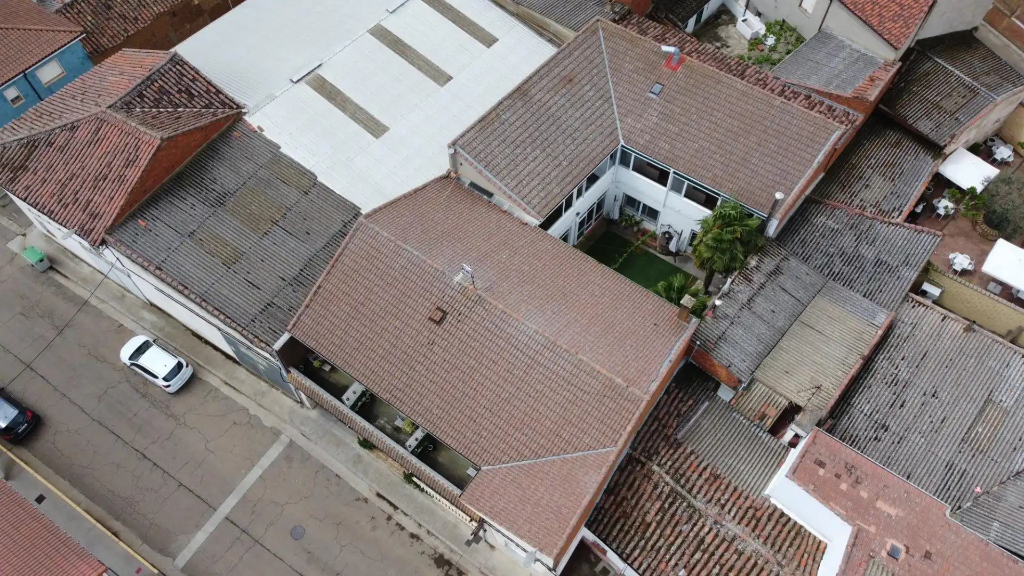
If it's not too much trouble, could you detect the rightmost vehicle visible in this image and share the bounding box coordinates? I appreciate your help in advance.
[120,335,192,392]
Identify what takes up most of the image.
buildings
